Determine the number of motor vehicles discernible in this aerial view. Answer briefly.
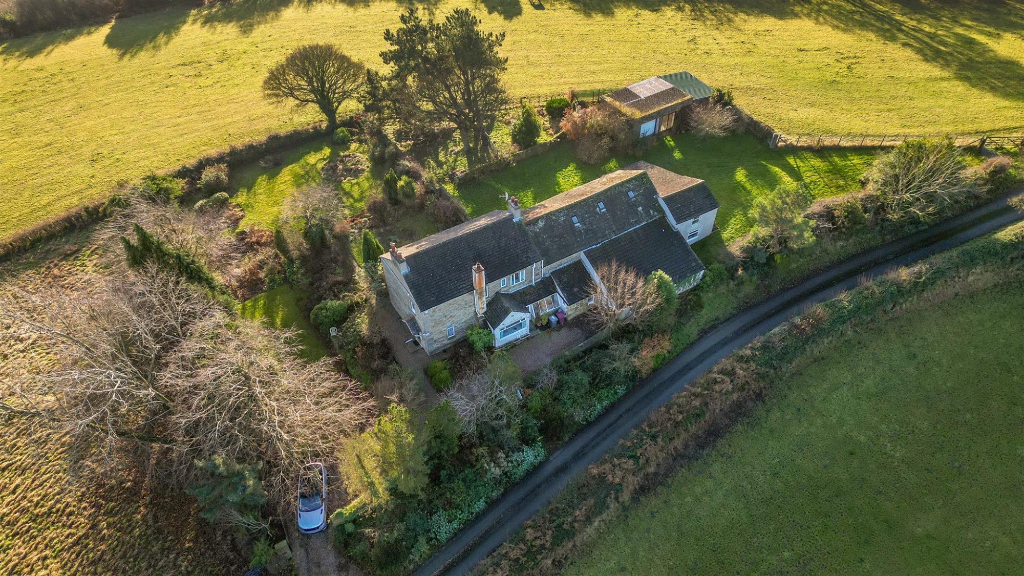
one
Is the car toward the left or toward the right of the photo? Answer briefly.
left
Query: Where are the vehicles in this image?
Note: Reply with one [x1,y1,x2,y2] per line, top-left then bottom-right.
[295,466,331,536]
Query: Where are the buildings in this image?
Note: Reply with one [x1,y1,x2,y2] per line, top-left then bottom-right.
[378,160,721,355]
[602,66,714,138]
